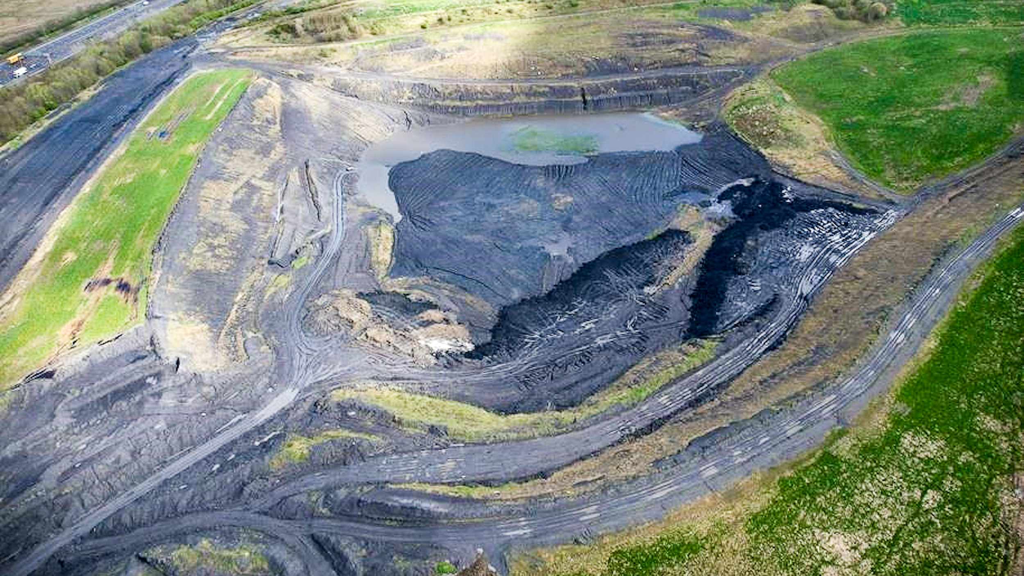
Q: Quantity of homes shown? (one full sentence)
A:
The photo contains no homes.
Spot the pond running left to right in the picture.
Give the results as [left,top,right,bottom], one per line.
[356,113,701,223]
